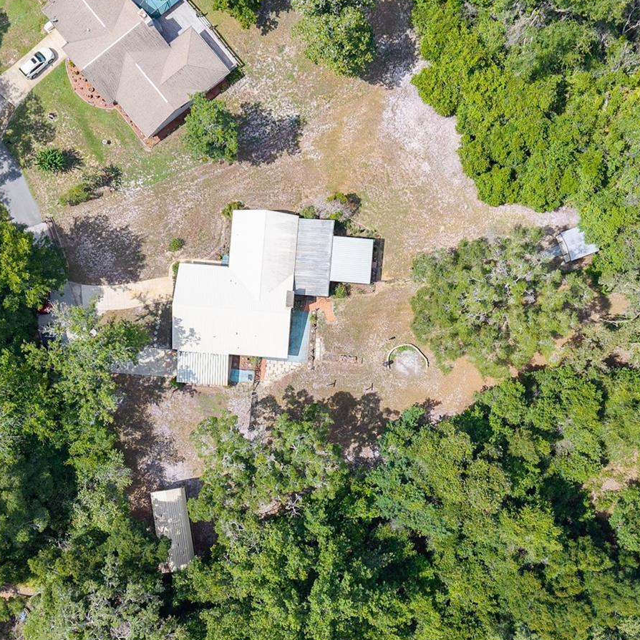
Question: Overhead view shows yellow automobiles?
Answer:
No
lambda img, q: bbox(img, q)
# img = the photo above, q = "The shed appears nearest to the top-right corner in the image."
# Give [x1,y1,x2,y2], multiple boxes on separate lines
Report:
[553,226,596,265]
